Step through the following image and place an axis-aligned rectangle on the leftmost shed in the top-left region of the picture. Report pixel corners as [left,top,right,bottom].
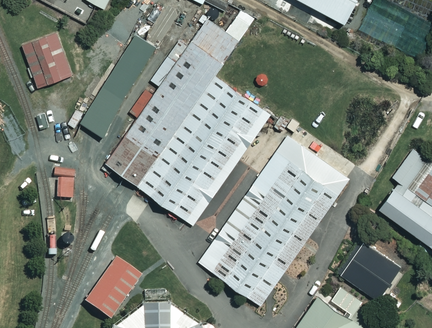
[22,32,72,88]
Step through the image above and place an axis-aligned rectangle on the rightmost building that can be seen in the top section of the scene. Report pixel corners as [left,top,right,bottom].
[358,0,432,56]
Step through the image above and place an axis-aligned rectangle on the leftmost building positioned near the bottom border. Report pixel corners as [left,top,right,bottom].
[85,258,142,318]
